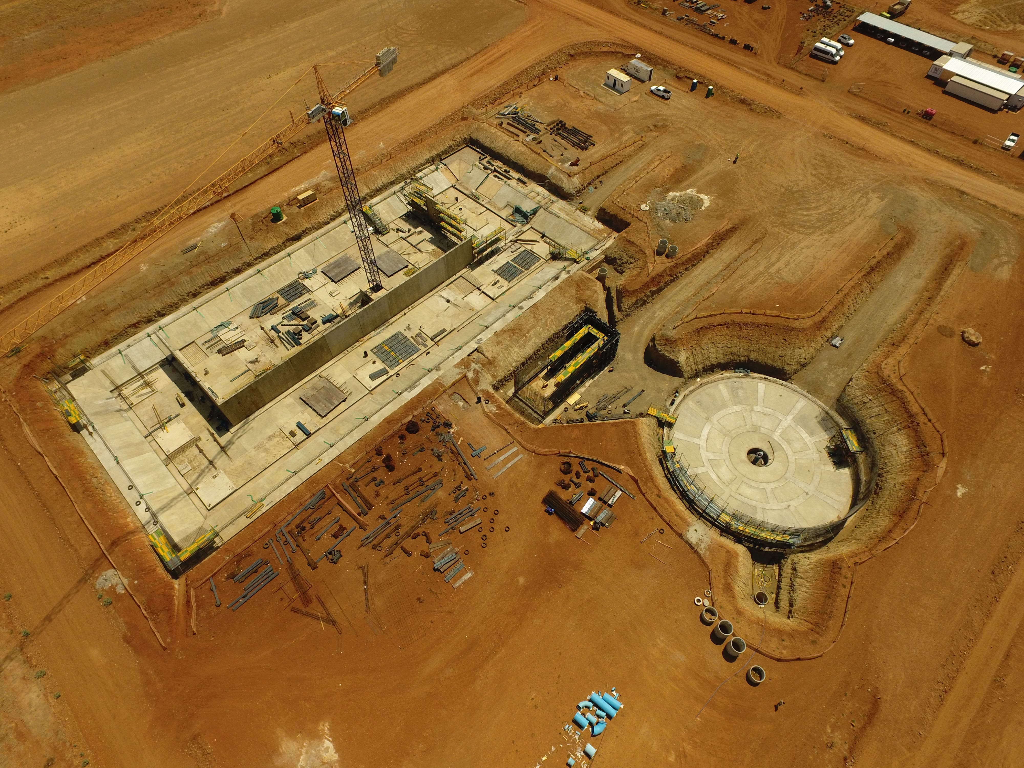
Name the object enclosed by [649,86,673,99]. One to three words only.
vehicle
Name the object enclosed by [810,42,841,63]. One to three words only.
vehicle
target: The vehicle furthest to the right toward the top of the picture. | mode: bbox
[1002,132,1023,148]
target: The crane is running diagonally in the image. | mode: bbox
[0,54,407,367]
